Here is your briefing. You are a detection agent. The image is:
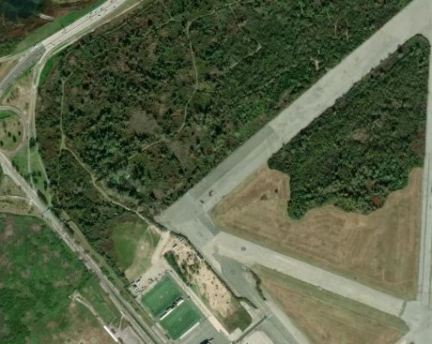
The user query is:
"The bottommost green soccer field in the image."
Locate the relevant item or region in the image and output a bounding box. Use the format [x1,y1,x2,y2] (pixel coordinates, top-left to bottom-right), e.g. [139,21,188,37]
[161,299,201,340]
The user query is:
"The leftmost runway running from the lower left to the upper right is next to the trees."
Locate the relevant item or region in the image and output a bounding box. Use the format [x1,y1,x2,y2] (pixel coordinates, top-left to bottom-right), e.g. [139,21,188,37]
[188,126,278,208]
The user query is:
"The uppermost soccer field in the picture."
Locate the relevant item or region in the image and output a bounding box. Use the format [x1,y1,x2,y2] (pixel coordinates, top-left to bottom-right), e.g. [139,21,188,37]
[141,274,183,317]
